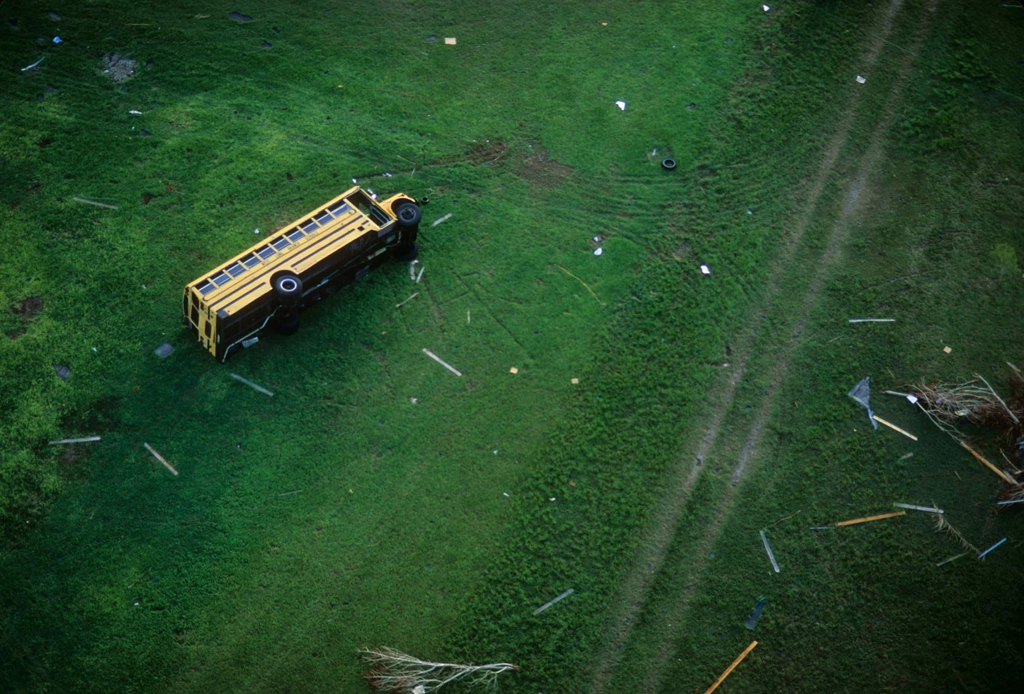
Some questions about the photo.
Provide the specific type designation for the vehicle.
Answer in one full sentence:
What you see as the vehicle is a bus.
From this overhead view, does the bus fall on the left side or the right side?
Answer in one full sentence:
The bus appears in the left half of the scene.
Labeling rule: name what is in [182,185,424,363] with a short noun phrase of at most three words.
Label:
bus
